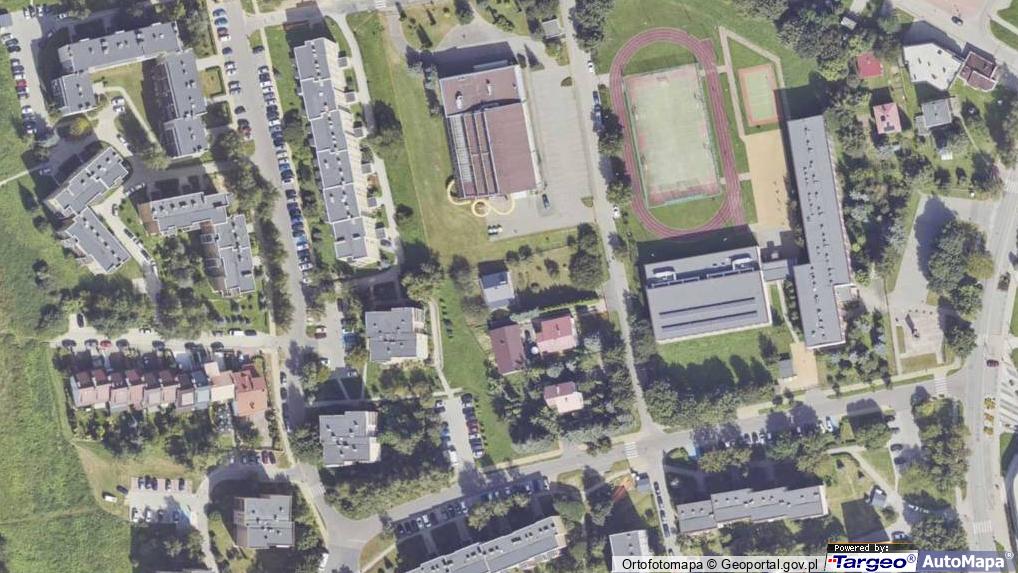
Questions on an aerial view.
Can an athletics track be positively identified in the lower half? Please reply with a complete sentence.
No, I can find no athletics track in the lower half.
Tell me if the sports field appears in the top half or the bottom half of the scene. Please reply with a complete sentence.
The sports field sits in the top half of the picture.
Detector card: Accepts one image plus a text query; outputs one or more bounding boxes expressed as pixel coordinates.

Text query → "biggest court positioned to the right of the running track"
[744,129,791,226]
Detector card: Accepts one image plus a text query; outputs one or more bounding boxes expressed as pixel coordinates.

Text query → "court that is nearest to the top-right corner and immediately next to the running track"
[738,64,778,125]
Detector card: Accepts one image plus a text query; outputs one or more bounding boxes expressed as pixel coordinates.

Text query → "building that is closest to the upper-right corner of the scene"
[959,52,1001,96]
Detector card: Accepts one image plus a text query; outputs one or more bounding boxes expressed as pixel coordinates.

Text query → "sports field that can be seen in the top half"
[623,65,721,205]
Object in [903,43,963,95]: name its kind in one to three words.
building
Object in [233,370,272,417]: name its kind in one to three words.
house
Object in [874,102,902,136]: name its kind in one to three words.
house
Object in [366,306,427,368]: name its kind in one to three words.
building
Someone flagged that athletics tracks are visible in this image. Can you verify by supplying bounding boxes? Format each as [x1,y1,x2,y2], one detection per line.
[610,27,745,241]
